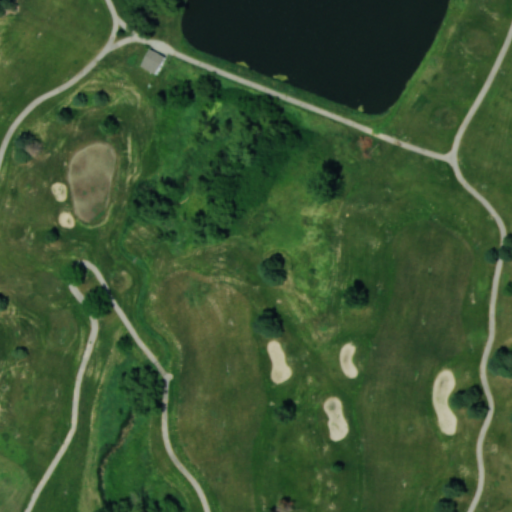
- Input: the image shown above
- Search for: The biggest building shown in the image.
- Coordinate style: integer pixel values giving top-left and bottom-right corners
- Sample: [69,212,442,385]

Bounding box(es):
[140,48,164,74]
